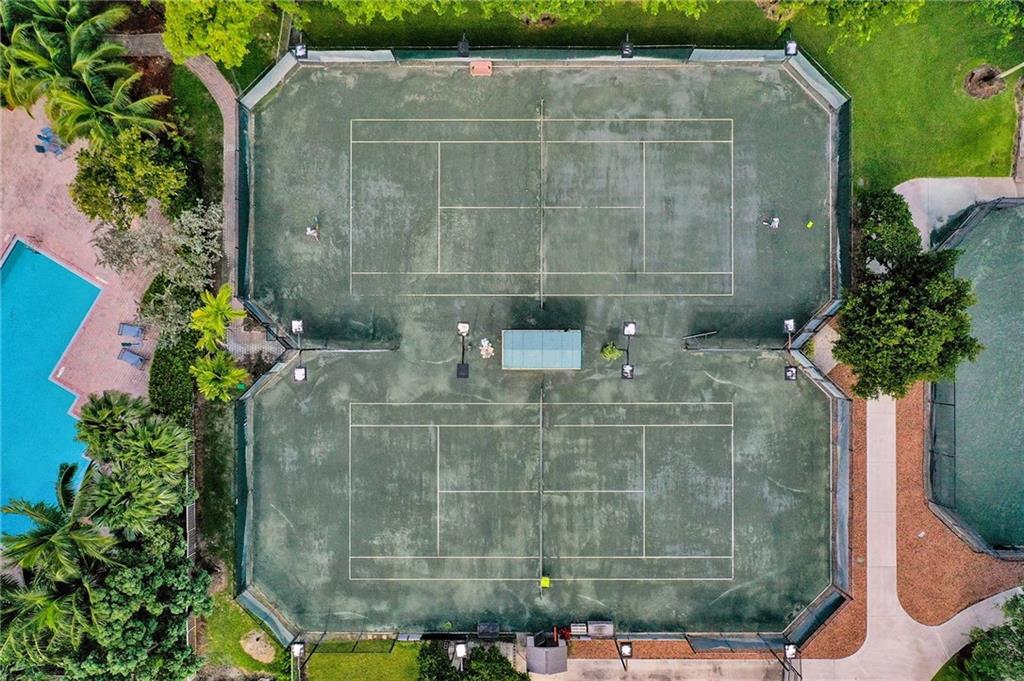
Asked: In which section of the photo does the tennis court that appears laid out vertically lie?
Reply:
right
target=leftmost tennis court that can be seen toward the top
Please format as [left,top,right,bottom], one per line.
[253,65,830,349]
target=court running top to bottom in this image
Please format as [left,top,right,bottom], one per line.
[931,201,1024,549]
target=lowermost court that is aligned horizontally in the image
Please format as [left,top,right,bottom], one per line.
[251,349,830,633]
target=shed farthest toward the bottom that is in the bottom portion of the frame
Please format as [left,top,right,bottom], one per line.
[527,627,567,676]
